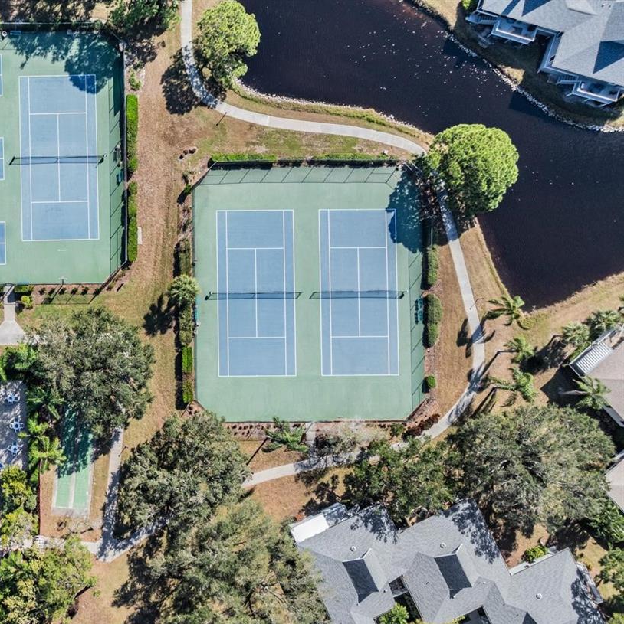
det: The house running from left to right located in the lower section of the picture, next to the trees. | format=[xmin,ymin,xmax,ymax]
[291,499,607,624]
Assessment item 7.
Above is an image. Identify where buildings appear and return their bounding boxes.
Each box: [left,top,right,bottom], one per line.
[596,443,624,504]
[559,328,624,443]
[291,499,607,624]
[464,0,624,108]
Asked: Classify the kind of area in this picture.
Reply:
residential area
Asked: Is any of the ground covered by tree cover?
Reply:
Yes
